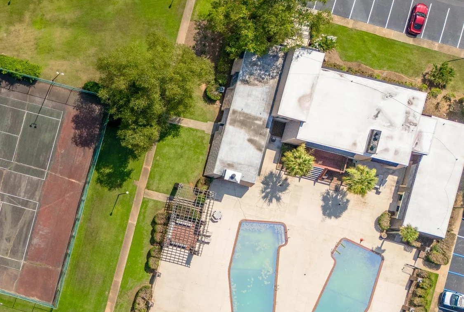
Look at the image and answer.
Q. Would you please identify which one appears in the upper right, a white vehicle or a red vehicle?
red vehicle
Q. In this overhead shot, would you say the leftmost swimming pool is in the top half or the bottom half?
bottom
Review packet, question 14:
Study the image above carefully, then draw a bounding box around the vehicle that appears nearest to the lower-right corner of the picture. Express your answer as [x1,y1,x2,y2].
[436,292,464,312]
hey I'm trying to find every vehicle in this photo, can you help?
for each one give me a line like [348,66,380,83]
[436,292,464,312]
[405,3,427,35]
